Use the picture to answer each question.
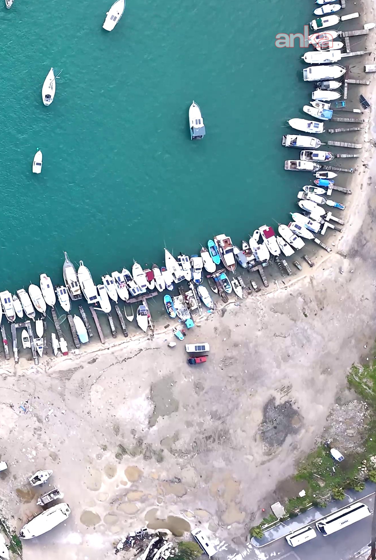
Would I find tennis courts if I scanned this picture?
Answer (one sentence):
No, the picture doesn't show any tennis court.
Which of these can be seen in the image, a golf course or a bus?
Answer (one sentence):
This aerial view contains a bus.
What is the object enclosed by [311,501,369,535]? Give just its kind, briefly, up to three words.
bus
